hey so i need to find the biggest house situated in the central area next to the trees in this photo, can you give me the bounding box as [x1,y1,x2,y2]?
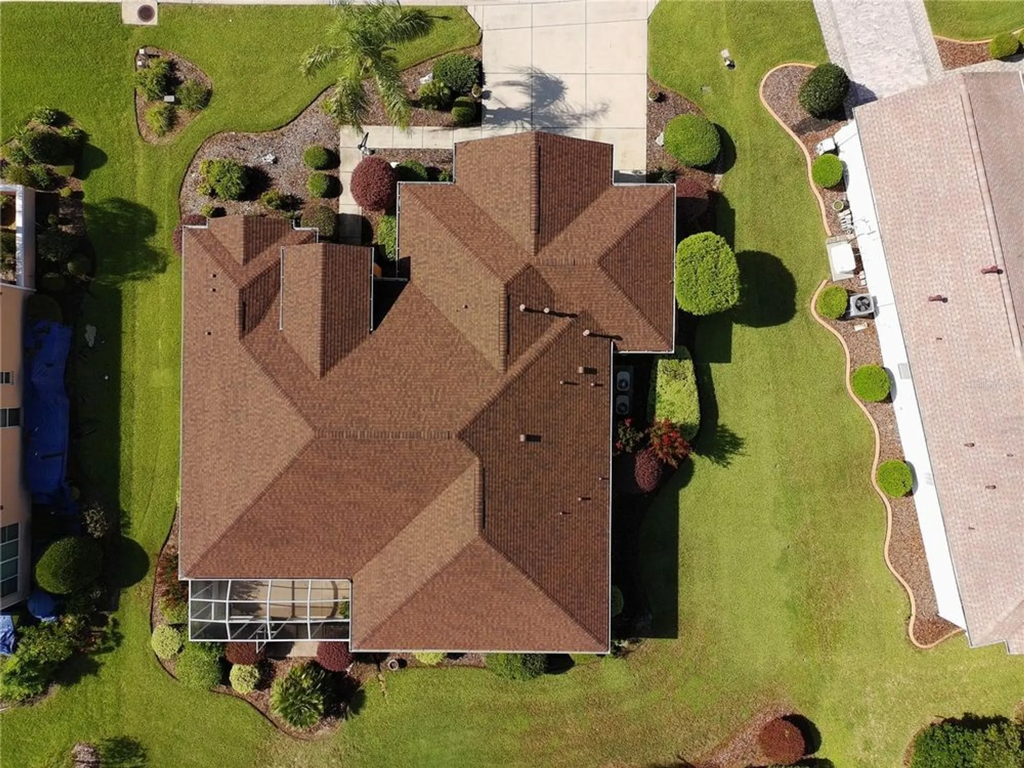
[176,131,678,657]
